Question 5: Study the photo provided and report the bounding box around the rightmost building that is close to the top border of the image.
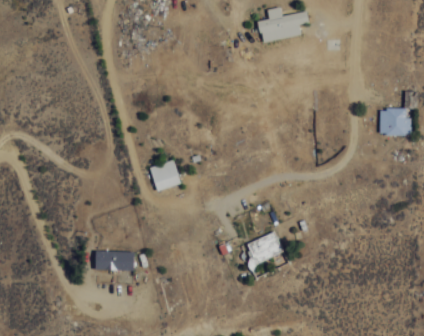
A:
[259,6,310,42]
